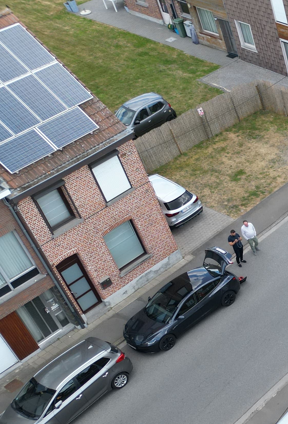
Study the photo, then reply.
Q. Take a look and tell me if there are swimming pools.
No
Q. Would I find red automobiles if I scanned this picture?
No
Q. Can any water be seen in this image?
No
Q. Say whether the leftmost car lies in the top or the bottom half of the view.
bottom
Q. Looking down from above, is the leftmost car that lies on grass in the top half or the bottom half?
top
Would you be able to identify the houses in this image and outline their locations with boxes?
[0,8,186,328]
[182,0,288,77]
